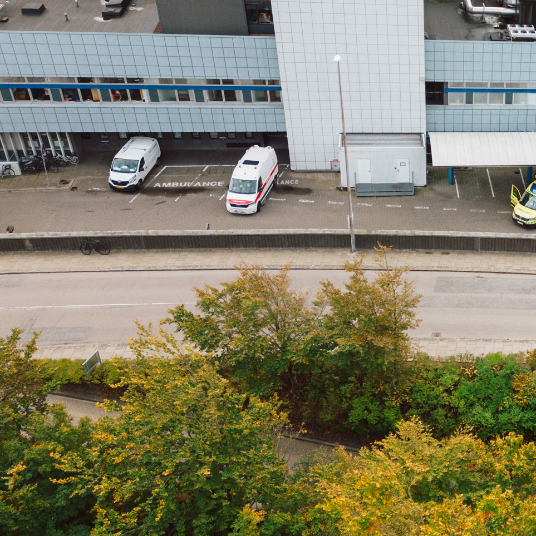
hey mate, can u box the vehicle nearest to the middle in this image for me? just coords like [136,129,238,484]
[227,144,281,215]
